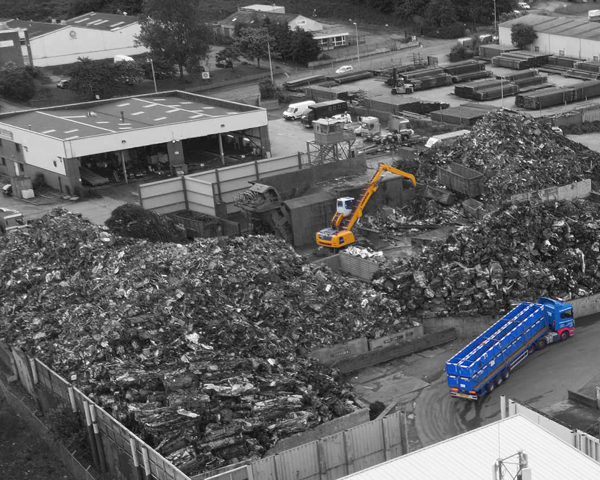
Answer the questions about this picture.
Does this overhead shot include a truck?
Yes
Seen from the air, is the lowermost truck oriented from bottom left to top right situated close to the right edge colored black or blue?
blue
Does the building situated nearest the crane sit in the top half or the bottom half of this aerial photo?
top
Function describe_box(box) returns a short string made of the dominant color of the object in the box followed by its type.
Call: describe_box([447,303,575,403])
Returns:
blue truck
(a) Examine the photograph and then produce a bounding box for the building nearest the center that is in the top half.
[305,123,346,168]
